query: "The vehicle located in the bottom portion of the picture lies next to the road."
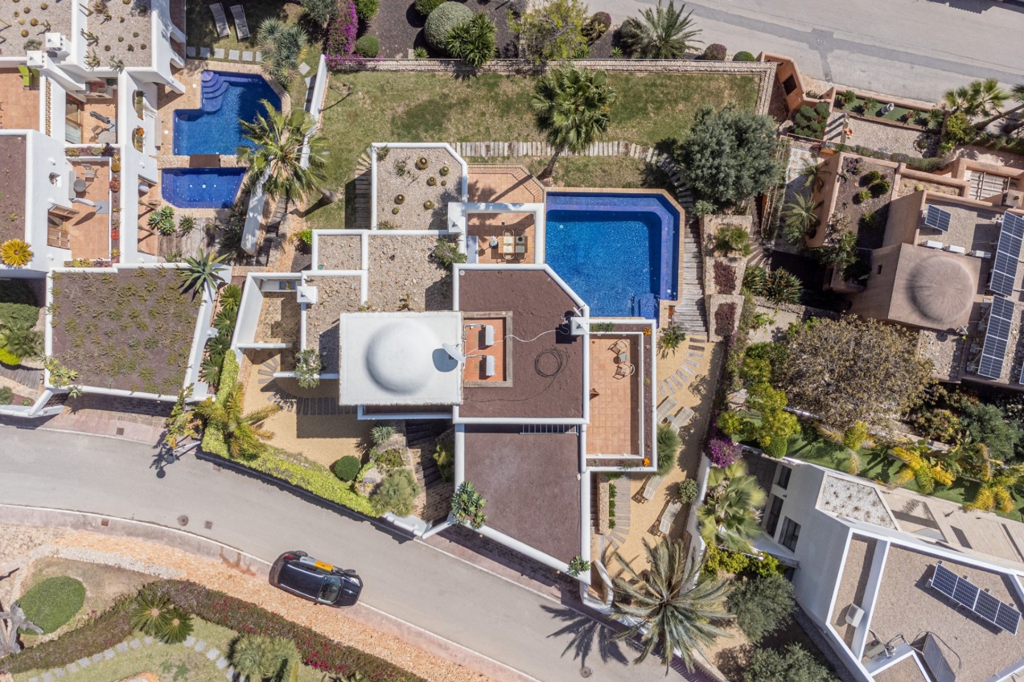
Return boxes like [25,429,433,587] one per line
[268,549,364,614]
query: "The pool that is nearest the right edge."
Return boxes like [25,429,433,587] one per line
[546,193,679,320]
